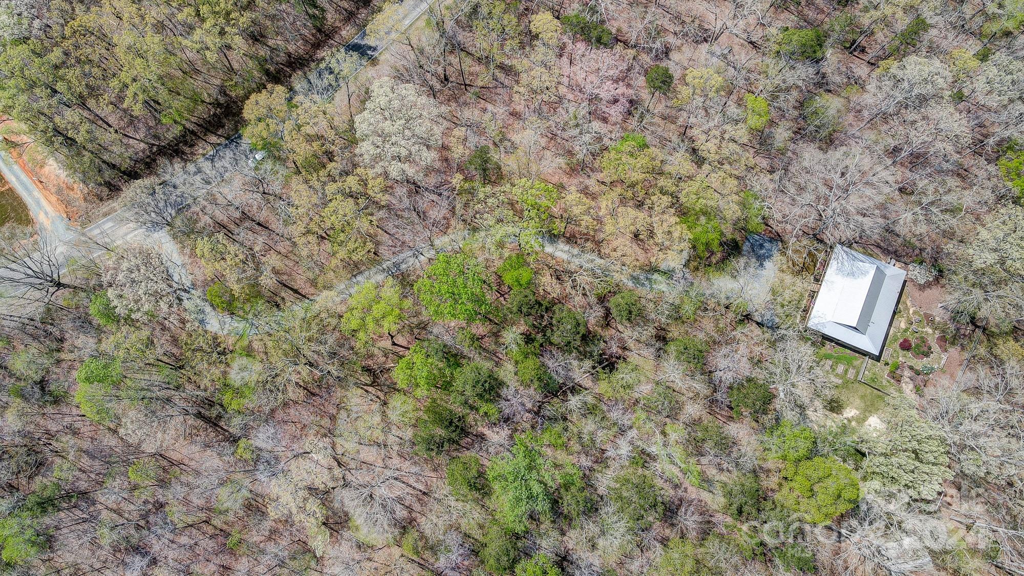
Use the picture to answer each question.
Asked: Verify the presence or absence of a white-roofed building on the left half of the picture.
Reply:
No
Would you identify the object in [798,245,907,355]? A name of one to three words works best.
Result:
house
